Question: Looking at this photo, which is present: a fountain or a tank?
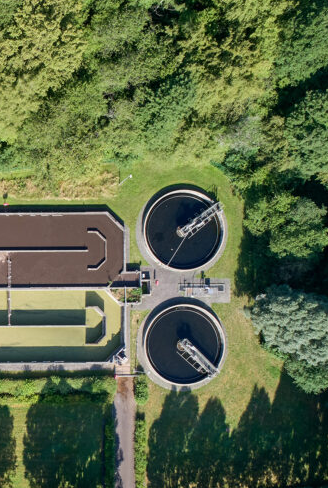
tank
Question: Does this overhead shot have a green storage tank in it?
No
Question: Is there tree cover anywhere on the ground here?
Yes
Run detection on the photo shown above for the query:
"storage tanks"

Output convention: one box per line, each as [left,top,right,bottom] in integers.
[138,300,228,390]
[137,186,228,277]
